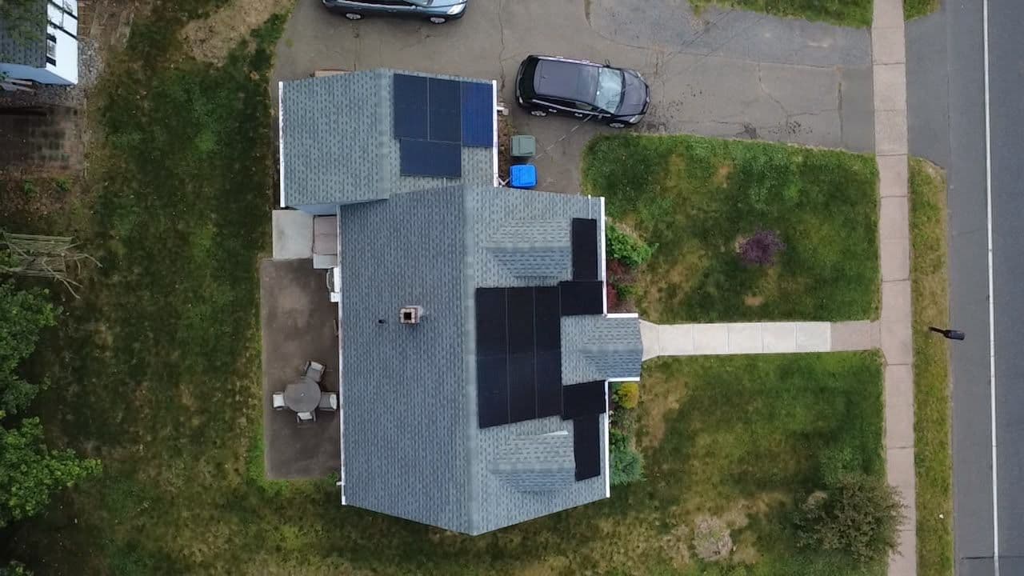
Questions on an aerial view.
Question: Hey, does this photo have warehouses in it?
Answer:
No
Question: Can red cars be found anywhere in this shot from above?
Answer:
No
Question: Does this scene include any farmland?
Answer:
No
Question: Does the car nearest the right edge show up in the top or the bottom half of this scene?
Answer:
top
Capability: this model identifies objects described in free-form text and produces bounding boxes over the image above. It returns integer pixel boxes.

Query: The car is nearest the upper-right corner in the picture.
[515,57,650,129]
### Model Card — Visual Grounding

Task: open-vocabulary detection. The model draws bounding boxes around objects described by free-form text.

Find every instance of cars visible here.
[320,0,466,26]
[515,57,650,129]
